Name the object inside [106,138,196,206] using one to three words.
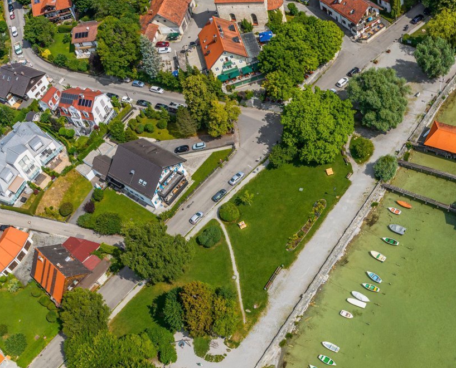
house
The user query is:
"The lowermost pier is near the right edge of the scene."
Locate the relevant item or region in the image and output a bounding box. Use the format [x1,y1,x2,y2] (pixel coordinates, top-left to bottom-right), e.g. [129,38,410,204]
[381,183,456,215]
